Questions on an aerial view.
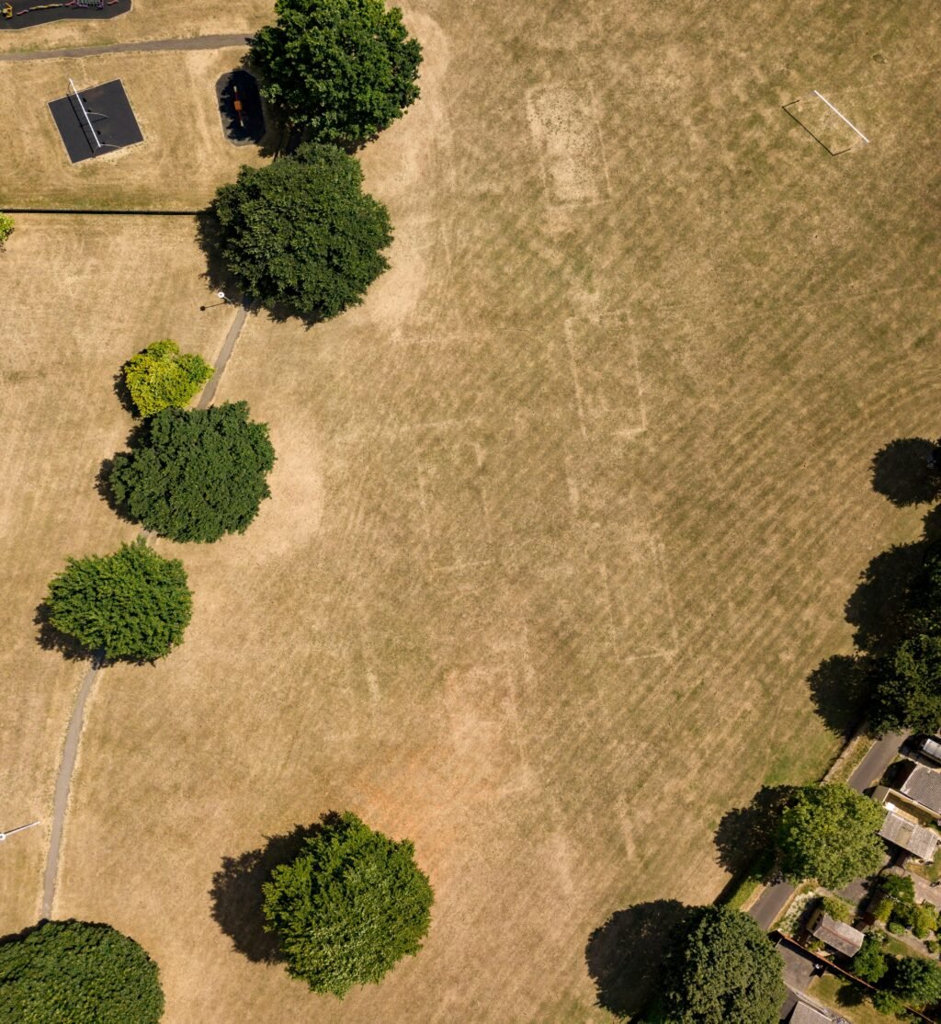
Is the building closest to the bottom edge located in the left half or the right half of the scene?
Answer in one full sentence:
The building closest to the bottom edge is on the right side of the image.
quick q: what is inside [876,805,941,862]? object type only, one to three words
building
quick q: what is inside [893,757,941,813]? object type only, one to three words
building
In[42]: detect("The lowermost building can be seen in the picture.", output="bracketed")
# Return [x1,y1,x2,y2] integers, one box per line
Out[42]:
[772,987,834,1024]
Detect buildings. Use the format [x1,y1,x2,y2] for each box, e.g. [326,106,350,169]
[876,805,941,862]
[893,757,941,813]
[911,739,941,768]
[806,905,865,957]
[772,987,834,1024]
[866,782,892,805]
